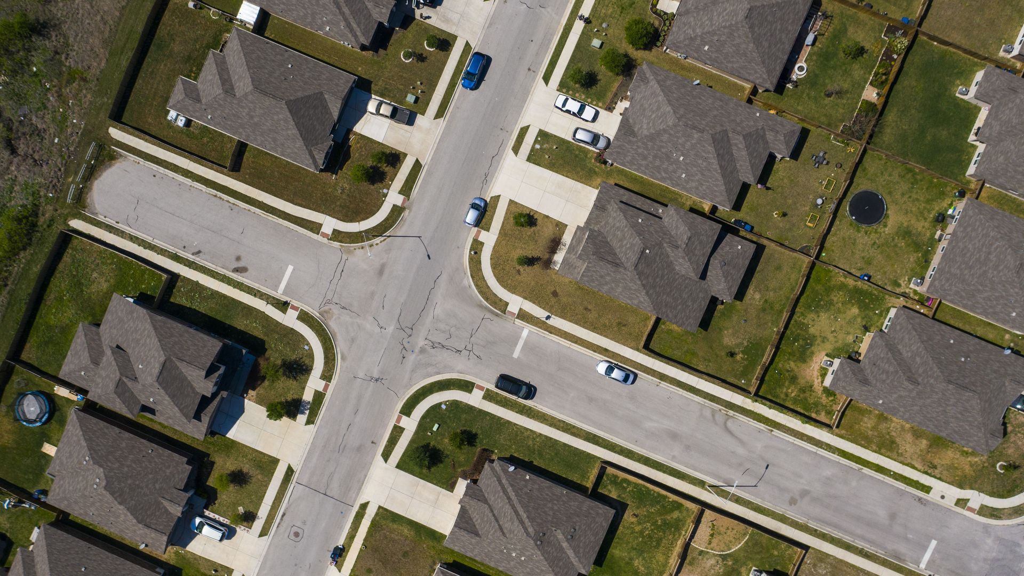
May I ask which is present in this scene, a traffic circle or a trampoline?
trampoline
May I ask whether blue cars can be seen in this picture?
Yes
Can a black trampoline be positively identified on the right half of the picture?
Yes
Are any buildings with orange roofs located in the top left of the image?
No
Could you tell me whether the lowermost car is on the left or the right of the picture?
left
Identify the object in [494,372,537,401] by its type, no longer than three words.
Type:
car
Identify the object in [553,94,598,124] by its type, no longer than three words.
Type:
car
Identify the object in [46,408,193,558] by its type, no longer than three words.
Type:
house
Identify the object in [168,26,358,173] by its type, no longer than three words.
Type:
house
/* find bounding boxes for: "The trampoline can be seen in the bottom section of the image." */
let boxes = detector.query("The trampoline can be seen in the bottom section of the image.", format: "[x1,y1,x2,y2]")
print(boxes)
[11,391,53,427]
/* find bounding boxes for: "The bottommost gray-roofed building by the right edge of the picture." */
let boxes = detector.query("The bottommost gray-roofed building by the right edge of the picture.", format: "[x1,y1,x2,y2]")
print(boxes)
[823,305,1024,454]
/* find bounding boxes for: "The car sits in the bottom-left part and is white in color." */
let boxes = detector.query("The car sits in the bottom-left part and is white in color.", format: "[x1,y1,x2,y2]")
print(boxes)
[189,517,228,545]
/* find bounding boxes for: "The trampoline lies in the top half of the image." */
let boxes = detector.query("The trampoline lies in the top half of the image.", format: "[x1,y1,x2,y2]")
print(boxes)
[846,188,885,227]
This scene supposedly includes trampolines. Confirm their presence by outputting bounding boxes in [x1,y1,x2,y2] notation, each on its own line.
[846,188,885,227]
[11,391,53,427]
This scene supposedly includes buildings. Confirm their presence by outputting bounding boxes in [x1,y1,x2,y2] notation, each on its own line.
[1004,26,1024,77]
[444,457,616,576]
[168,26,358,173]
[233,1,260,27]
[8,520,167,576]
[59,293,230,440]
[918,197,1024,334]
[46,408,193,558]
[246,0,396,51]
[966,65,1024,208]
[432,559,464,576]
[557,182,757,332]
[663,0,813,91]
[604,61,801,210]
[823,305,1024,454]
